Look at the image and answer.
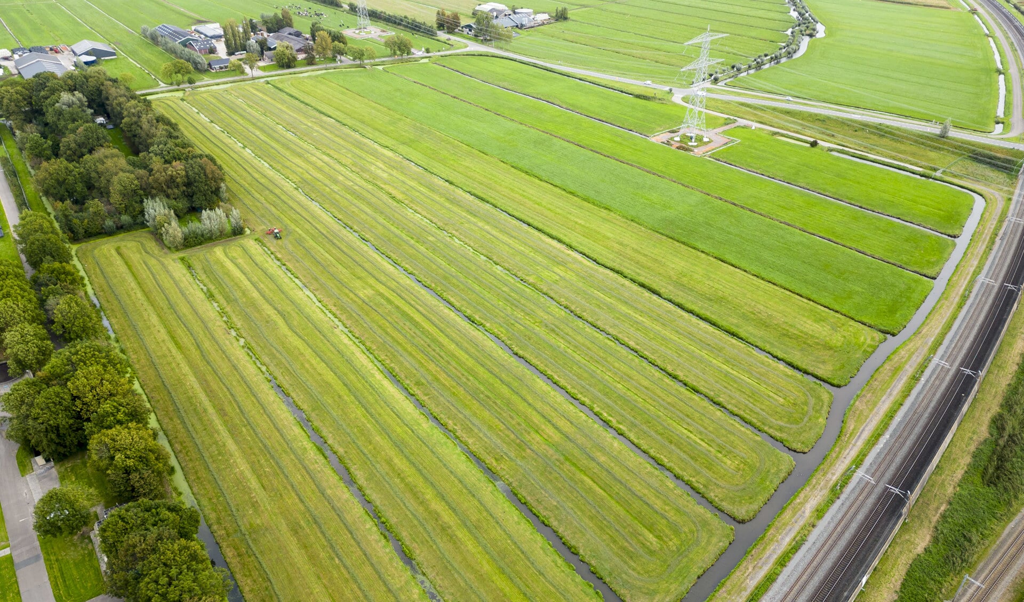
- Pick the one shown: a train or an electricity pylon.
electricity pylon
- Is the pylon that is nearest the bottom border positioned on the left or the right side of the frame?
right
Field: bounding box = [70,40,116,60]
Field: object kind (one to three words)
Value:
barn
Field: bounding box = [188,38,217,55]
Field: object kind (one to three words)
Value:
barn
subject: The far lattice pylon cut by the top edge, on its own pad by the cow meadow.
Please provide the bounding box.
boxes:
[353,0,375,34]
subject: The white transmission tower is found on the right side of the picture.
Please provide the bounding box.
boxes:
[671,23,730,145]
